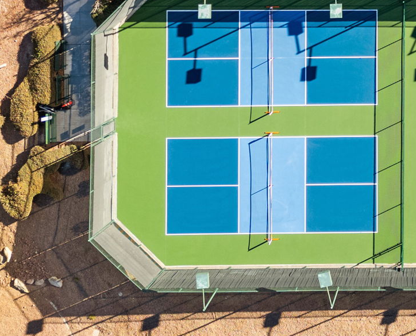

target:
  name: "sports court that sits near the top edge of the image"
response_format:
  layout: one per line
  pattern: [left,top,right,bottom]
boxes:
[167,10,377,106]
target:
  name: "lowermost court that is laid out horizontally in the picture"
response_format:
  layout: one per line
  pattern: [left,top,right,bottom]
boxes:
[167,137,377,234]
